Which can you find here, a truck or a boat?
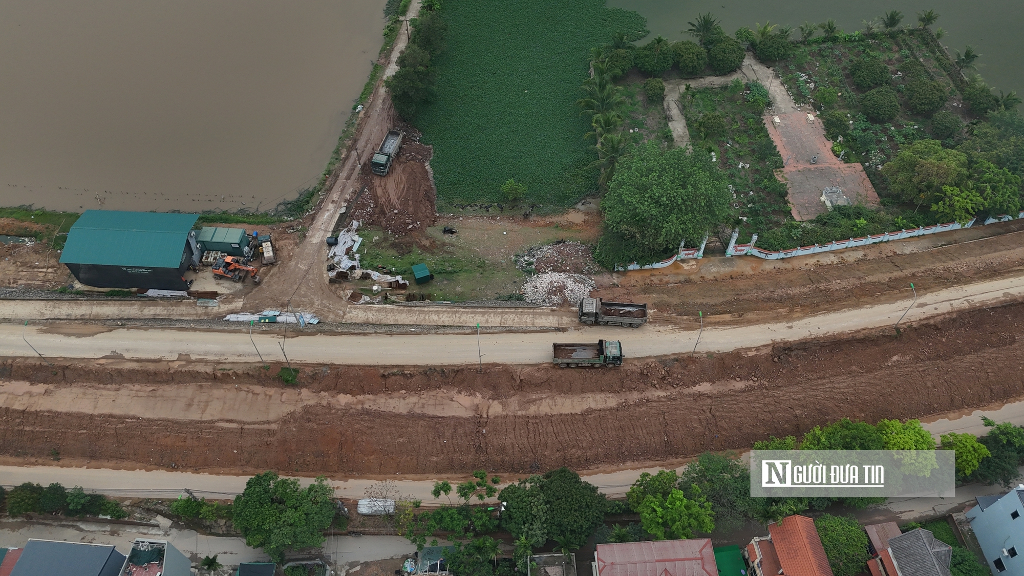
truck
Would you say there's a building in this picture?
Yes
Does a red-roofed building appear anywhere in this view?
Yes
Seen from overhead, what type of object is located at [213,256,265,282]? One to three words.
work vehicle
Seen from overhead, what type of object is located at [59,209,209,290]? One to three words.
building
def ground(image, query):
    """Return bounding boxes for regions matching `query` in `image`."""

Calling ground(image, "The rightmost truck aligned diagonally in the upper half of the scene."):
[367,128,404,174]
